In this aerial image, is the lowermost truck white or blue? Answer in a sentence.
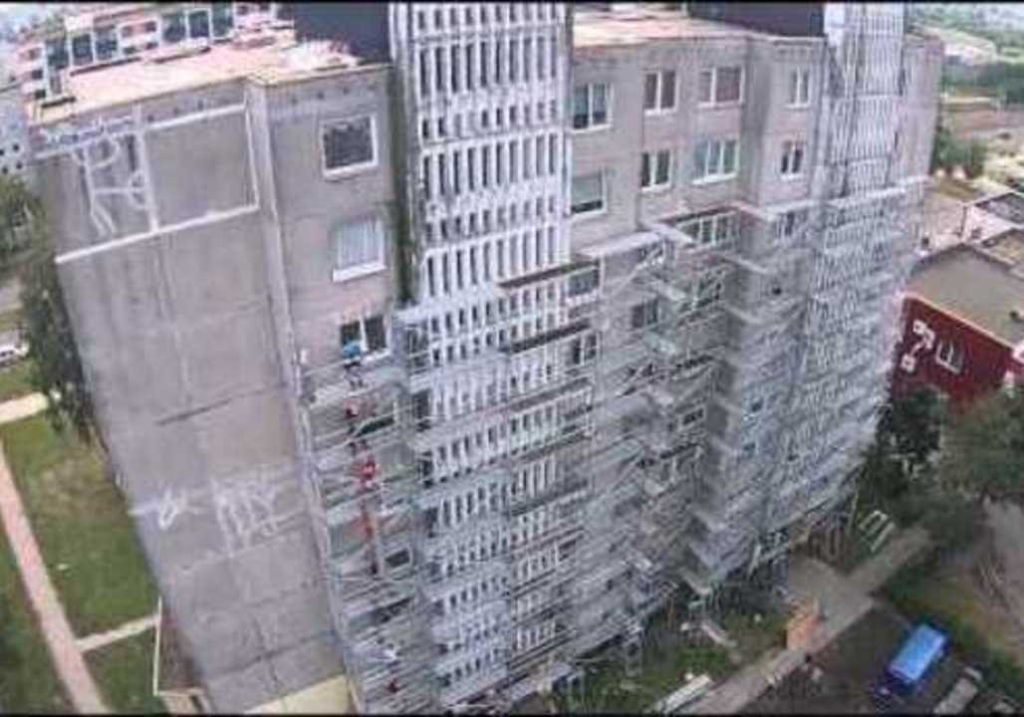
In this view, the lowermost truck is blue.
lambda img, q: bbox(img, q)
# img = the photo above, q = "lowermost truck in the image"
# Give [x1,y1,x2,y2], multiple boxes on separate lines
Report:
[867,620,948,717]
